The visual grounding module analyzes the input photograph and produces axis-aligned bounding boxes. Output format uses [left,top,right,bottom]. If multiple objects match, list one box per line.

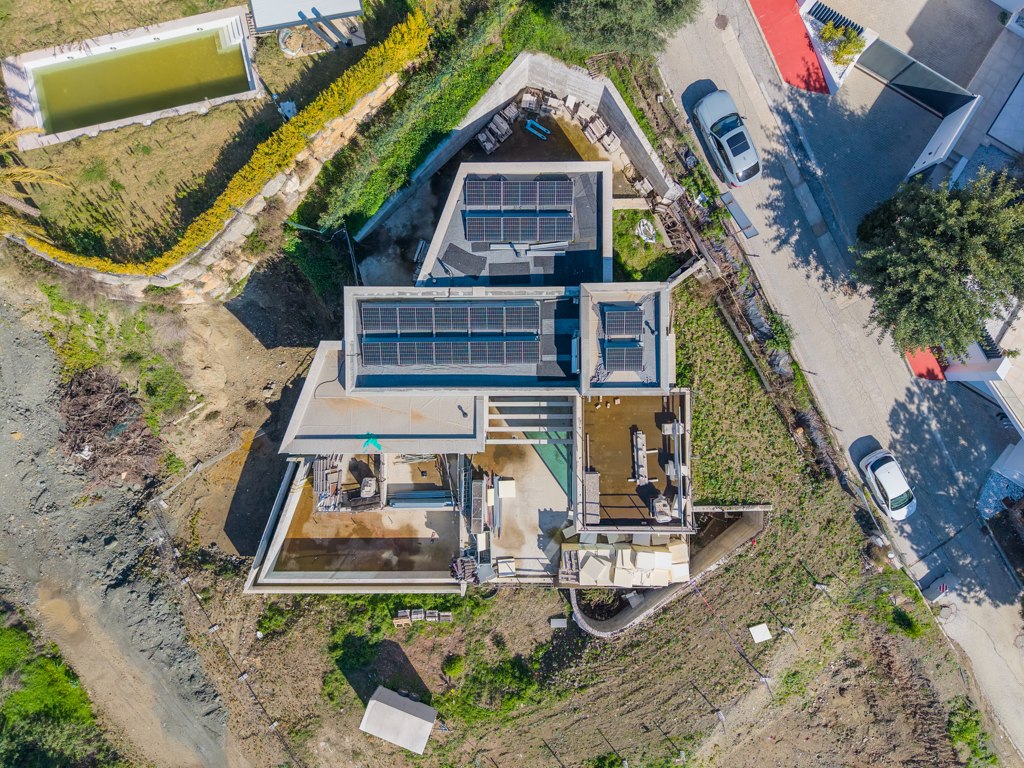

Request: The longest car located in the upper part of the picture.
[694,92,765,191]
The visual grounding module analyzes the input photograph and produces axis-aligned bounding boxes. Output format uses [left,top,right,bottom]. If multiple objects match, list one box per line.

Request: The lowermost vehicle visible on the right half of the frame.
[858,449,916,523]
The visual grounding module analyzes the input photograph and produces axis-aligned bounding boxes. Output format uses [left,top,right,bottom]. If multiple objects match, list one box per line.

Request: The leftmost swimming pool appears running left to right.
[2,5,269,148]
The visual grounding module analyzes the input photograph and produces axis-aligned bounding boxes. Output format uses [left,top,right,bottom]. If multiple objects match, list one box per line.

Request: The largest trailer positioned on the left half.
[360,687,453,753]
